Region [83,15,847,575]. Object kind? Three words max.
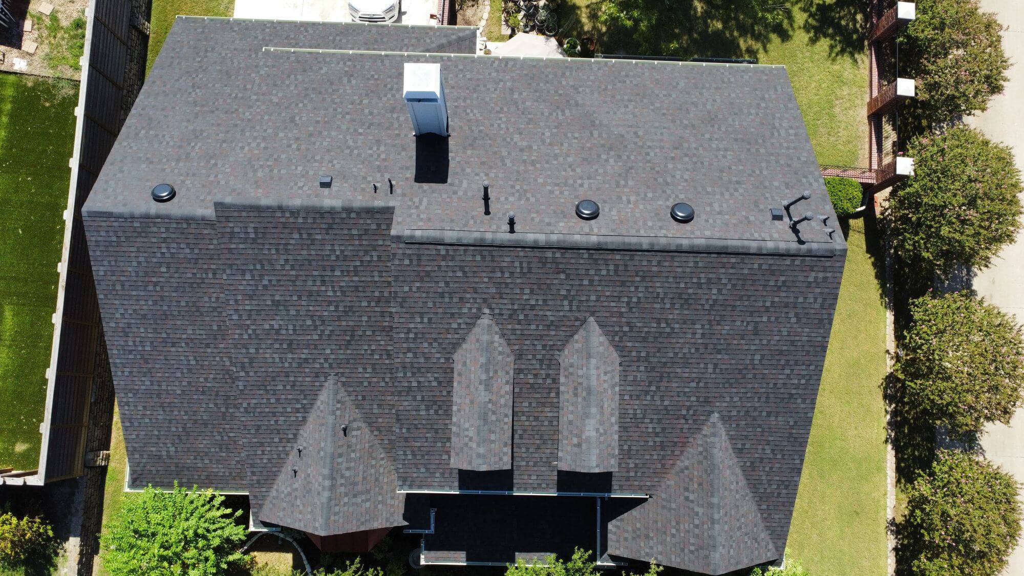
house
